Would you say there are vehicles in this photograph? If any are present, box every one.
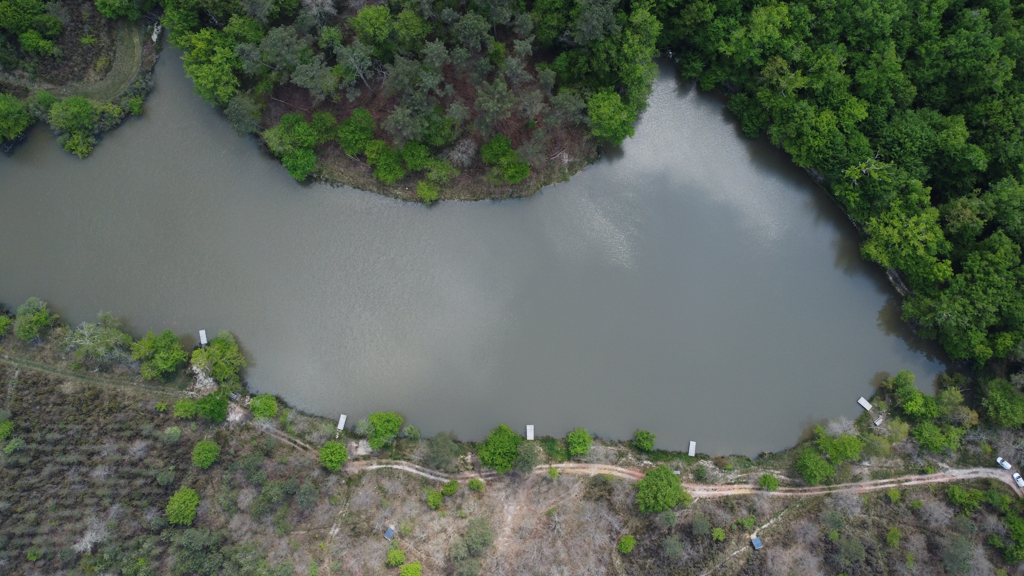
[998,457,1015,471]
[1013,473,1024,489]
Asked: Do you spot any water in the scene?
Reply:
Yes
